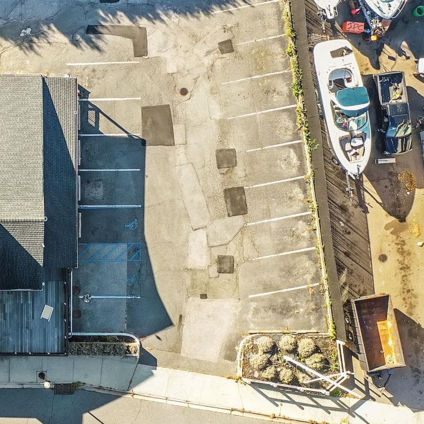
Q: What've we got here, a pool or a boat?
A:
boat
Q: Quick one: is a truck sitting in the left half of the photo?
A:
No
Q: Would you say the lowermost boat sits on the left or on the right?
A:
right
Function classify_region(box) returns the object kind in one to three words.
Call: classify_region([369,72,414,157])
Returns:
truck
